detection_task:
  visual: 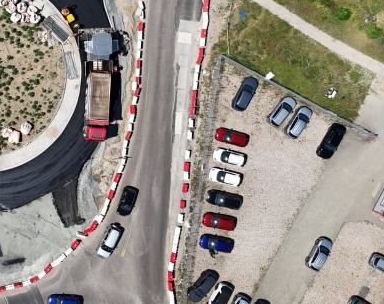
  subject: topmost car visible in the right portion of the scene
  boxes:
[231,75,256,110]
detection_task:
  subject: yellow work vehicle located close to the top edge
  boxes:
[59,7,76,23]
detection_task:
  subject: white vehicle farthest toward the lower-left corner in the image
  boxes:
[98,222,123,256]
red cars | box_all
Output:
[213,127,249,146]
[201,211,236,230]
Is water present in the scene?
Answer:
No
